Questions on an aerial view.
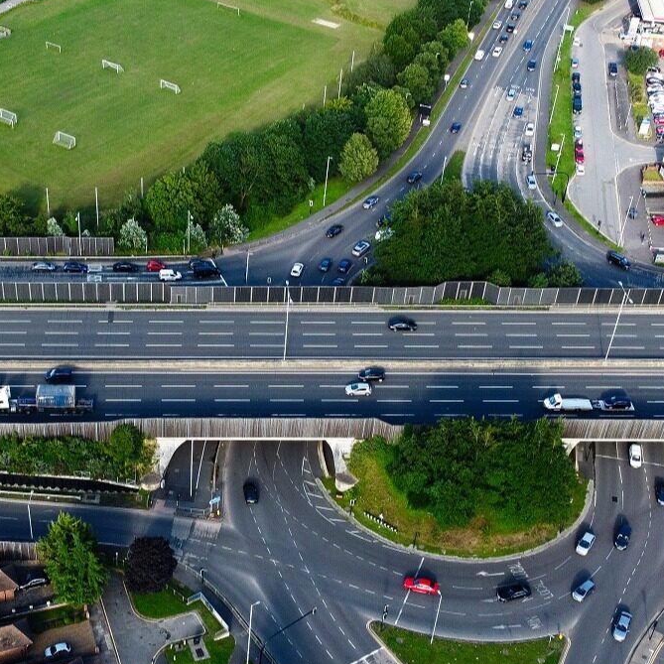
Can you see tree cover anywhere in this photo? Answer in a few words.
Yes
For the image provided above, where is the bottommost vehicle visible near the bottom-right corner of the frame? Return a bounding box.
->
[613,611,631,639]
